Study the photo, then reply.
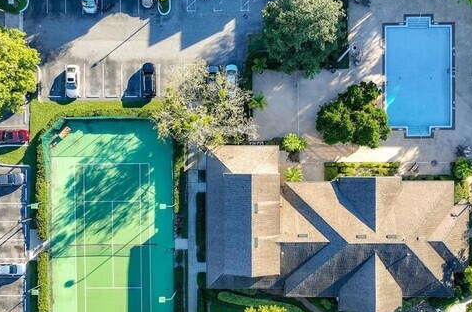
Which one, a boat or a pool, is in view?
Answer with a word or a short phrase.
pool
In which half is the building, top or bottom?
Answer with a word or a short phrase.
bottom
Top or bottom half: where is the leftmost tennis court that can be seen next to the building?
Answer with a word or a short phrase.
bottom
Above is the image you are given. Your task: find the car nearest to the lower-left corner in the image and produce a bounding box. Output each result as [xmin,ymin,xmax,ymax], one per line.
[0,262,28,277]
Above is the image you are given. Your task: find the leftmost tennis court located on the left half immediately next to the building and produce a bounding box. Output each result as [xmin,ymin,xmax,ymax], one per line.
[51,120,173,312]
